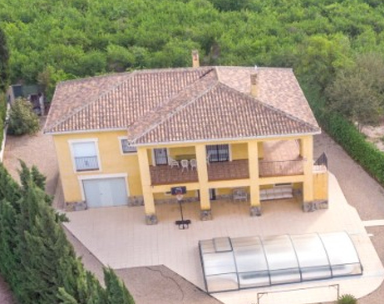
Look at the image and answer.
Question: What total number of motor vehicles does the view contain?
0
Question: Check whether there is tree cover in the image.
Yes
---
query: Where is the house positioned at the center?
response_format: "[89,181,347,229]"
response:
[42,50,333,223]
